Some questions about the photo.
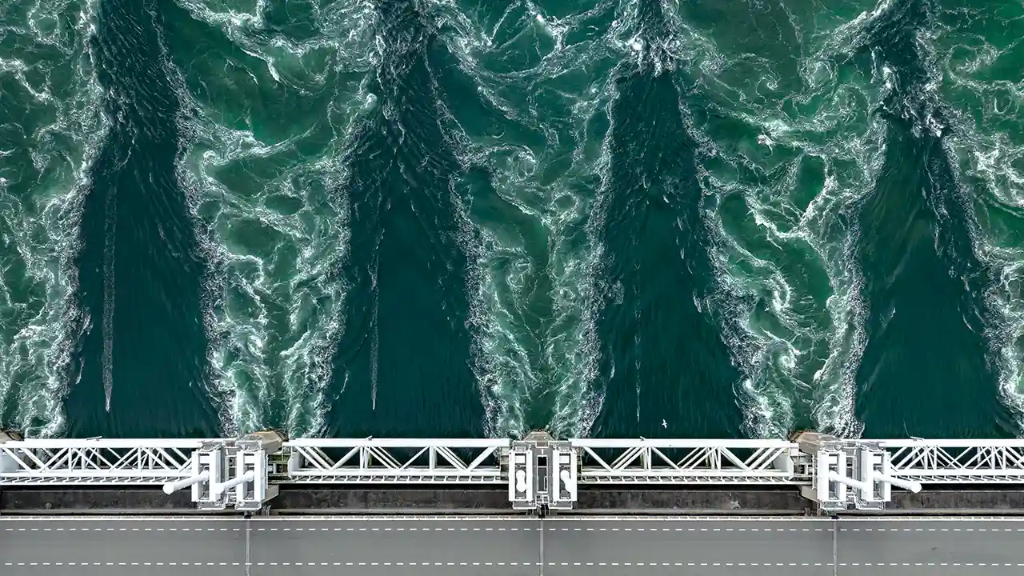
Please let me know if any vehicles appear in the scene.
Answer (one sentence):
No, there isn't any vehicle down there.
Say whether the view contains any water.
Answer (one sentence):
Yes, the picture does contain water.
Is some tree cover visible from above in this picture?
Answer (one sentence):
No, the picture contains no tree cover.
